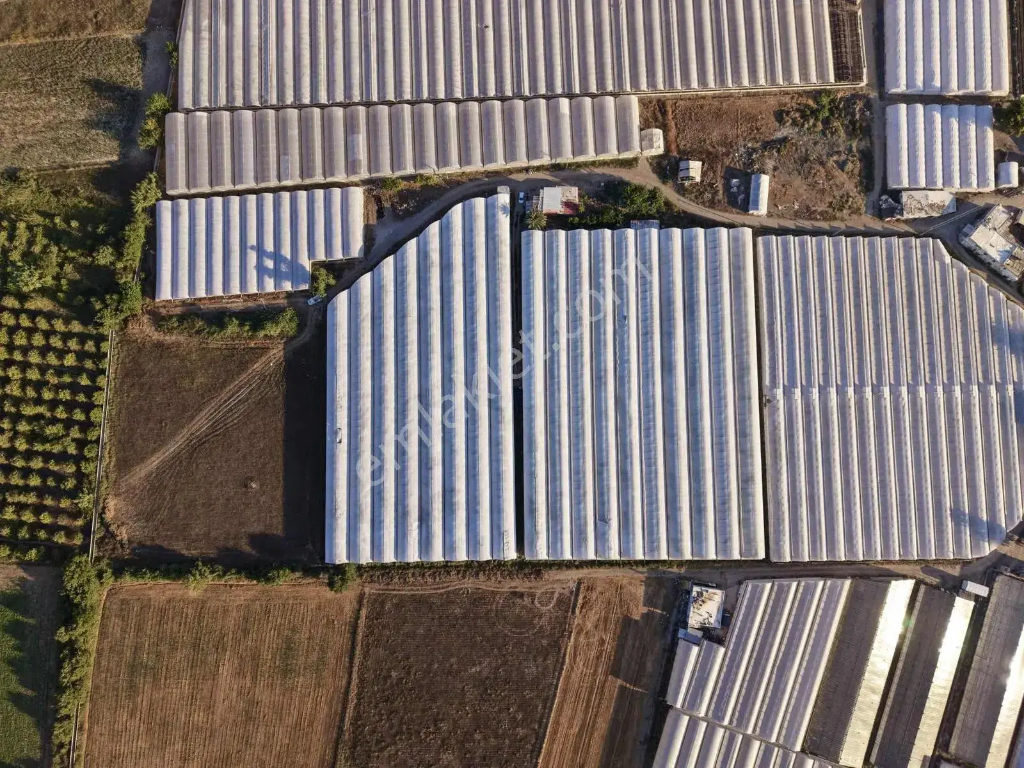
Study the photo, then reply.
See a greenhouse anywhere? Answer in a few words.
Yes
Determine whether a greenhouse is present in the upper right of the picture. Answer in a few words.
Yes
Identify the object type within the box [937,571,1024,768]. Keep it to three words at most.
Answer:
shed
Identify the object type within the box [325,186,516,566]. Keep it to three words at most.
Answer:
greenhouse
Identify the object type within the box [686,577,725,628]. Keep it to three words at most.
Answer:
house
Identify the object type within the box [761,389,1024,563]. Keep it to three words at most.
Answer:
greenhouse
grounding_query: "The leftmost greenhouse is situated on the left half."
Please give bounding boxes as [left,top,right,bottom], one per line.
[155,185,366,302]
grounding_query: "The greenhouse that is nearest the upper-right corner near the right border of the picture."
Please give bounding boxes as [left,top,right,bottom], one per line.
[879,0,1009,99]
